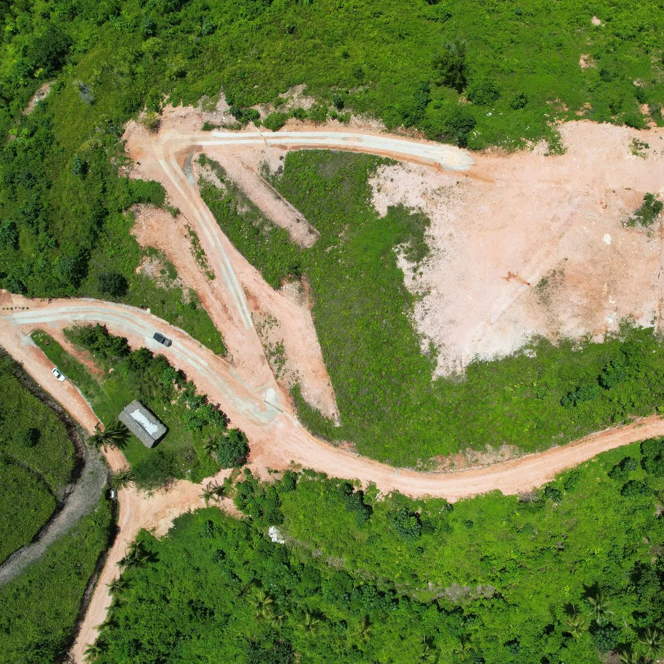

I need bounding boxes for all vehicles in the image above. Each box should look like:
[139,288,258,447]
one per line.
[51,367,67,381]
[154,331,173,346]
